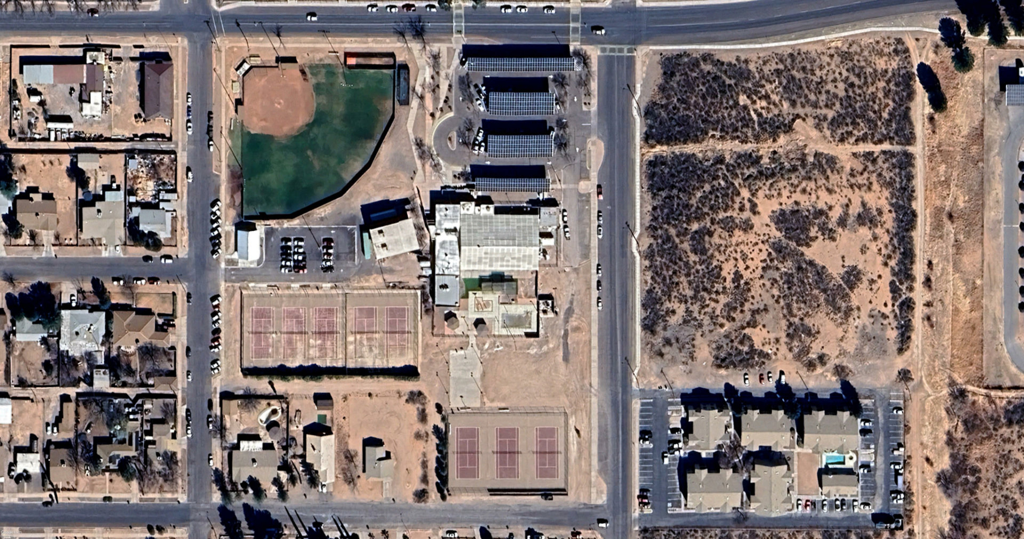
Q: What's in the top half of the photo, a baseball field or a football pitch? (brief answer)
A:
baseball field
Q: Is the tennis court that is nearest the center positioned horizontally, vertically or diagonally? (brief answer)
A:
vertically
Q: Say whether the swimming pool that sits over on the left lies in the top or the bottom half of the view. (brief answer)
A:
bottom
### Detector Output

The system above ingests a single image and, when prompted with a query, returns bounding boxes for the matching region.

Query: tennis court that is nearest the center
[385,307,410,359]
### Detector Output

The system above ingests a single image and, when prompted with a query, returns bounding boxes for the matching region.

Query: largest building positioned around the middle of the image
[429,196,560,306]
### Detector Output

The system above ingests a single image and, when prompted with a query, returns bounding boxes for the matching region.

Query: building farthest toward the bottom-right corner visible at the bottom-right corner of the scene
[822,471,859,500]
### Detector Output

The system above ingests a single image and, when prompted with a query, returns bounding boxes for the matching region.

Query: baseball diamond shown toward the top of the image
[243,63,395,218]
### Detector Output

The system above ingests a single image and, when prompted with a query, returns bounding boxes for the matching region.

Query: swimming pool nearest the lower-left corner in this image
[258,407,280,427]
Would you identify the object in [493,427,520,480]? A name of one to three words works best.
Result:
tennis court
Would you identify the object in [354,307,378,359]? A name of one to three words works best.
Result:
tennis court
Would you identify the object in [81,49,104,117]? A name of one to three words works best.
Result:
house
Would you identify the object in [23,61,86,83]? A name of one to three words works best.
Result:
building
